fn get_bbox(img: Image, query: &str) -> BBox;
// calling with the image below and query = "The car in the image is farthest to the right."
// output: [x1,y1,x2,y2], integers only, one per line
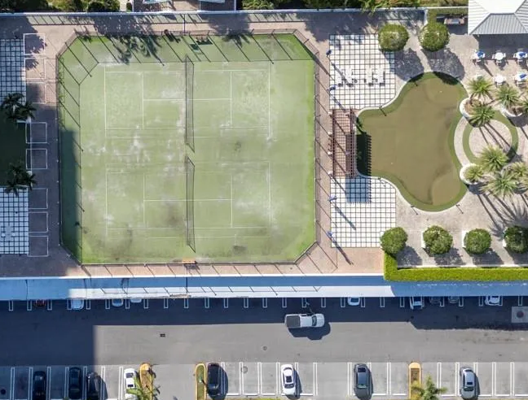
[484,295,500,308]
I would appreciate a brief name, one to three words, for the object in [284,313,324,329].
vehicle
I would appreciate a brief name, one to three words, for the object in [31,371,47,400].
car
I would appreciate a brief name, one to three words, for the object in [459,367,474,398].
car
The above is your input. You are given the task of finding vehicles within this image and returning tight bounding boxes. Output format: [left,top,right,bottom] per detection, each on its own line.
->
[130,298,143,306]
[427,296,441,306]
[446,296,460,306]
[355,365,370,397]
[281,365,296,396]
[31,371,47,400]
[111,298,124,309]
[484,295,500,308]
[284,313,324,329]
[32,299,47,309]
[207,365,222,396]
[86,371,101,400]
[68,299,83,311]
[344,297,360,308]
[123,368,137,400]
[408,296,424,311]
[459,367,474,398]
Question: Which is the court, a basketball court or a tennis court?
tennis court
